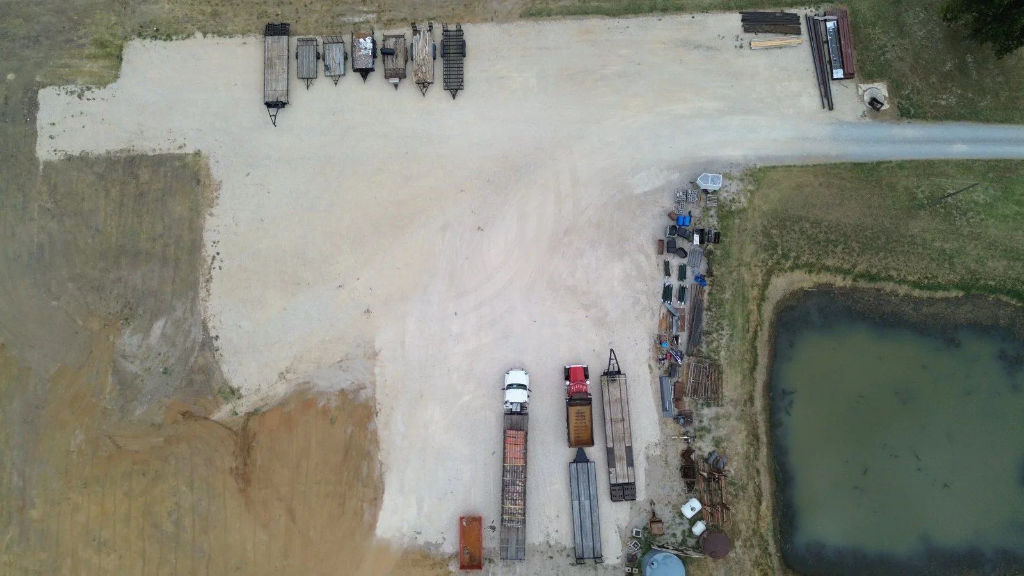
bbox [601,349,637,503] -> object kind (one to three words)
trailer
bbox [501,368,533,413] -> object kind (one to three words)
truck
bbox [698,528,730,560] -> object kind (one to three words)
storage tank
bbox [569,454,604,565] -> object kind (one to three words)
trailer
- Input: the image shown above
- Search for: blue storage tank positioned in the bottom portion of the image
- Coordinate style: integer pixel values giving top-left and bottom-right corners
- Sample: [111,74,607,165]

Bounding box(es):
[642,547,685,576]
